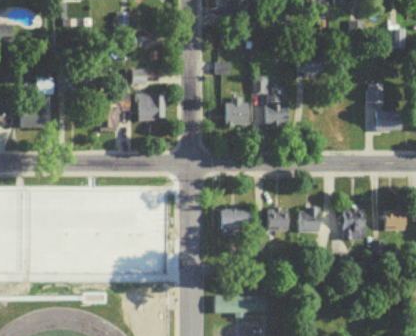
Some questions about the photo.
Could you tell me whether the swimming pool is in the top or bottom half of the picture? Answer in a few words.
top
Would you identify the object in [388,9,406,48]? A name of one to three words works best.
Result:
building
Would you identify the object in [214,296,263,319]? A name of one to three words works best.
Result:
shed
